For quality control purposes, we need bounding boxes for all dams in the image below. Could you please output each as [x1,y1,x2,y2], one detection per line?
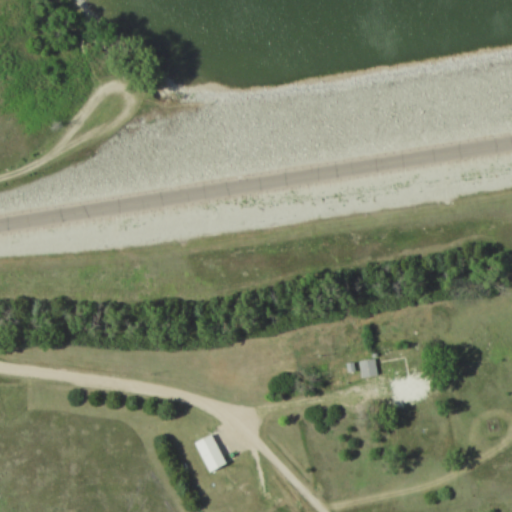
[0,44,512,258]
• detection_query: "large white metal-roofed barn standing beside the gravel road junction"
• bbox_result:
[194,434,228,473]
